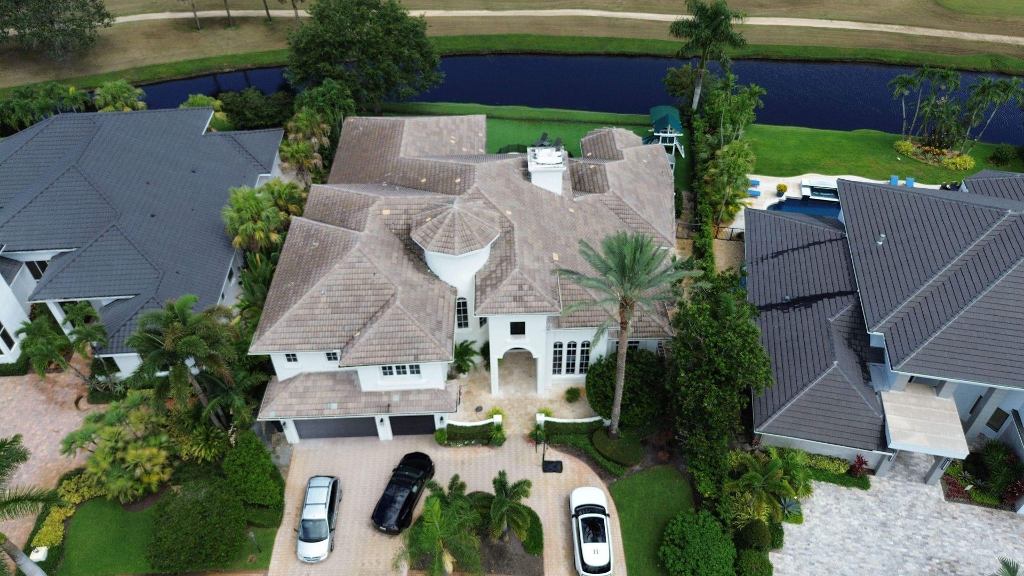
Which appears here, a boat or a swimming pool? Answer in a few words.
swimming pool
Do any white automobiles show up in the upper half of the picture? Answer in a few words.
No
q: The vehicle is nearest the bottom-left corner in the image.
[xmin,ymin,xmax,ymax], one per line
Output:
[294,477,343,564]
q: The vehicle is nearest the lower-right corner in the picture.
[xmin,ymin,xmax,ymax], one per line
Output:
[569,488,615,576]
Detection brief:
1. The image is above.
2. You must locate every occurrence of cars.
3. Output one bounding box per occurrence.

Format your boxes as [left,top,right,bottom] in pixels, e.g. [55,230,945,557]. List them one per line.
[376,454,435,533]
[294,477,343,564]
[569,488,615,576]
